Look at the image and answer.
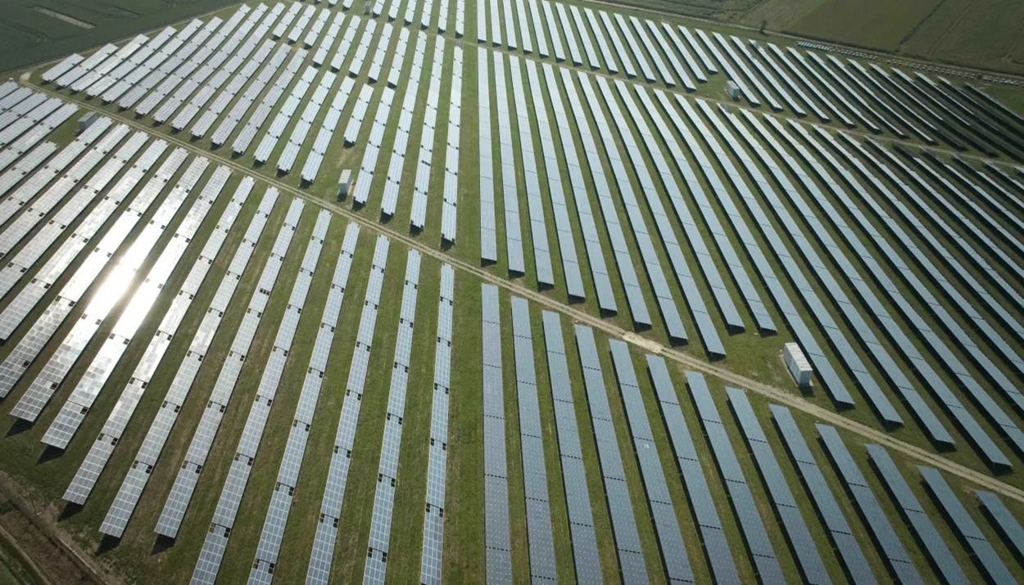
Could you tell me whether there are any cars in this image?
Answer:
No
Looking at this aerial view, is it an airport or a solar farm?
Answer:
solar farm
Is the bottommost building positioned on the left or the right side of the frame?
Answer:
right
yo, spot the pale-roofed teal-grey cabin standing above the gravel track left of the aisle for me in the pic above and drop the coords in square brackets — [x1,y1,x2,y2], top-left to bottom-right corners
[338,169,356,193]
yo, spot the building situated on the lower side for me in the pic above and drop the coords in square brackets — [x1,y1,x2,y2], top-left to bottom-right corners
[777,342,814,383]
